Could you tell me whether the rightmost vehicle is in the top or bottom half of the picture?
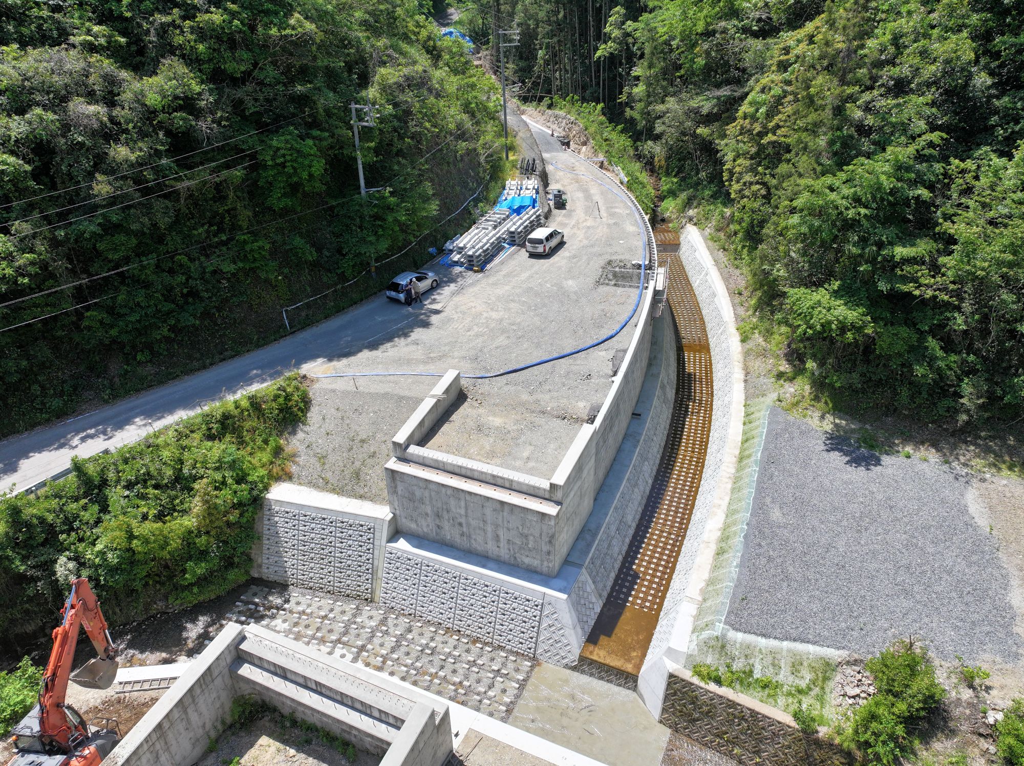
top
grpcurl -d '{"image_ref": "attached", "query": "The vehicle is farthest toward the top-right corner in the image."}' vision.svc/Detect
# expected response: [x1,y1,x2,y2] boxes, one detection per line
[524,224,567,255]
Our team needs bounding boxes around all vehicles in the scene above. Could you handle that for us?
[383,268,439,303]
[0,582,129,766]
[524,224,567,255]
